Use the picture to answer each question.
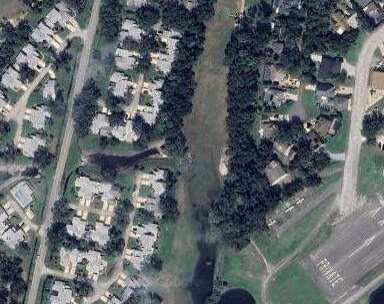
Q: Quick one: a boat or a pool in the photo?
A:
pool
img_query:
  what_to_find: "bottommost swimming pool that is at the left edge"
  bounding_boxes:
[9,182,33,207]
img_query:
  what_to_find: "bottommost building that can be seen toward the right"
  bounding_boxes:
[263,157,290,186]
